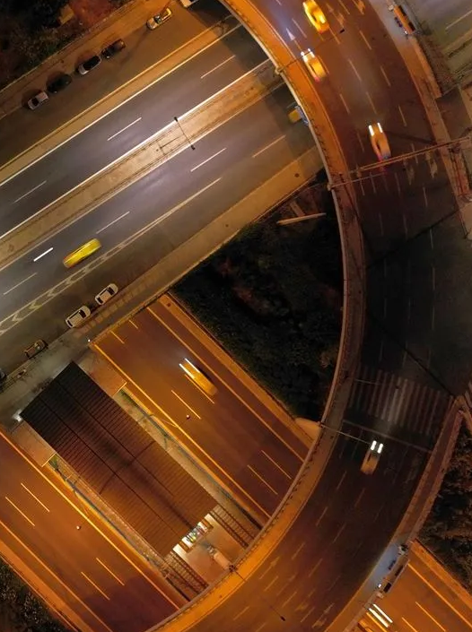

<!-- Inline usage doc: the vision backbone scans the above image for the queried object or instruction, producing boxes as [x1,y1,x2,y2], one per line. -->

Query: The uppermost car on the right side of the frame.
[303,0,326,29]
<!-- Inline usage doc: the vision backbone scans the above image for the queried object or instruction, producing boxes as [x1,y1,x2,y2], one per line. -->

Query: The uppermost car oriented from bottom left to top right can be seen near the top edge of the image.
[145,6,171,28]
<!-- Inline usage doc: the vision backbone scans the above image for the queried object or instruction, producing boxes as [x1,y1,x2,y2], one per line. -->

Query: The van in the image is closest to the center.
[184,364,213,392]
